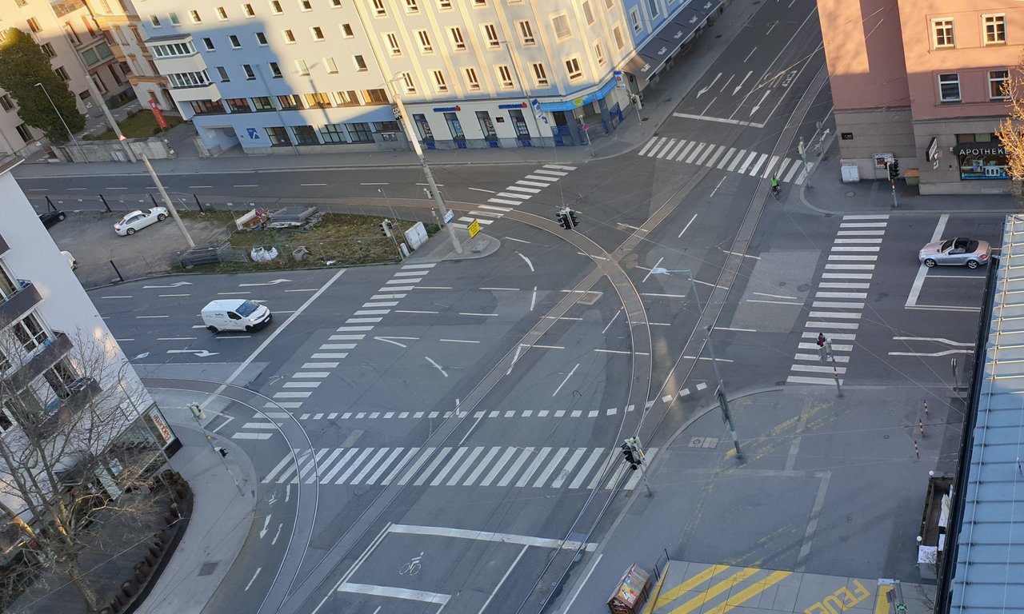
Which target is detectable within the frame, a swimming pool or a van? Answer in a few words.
van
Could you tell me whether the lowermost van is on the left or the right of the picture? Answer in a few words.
left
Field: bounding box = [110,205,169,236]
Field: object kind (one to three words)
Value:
car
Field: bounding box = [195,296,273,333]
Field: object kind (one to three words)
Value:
van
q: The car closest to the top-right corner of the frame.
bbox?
[917,235,990,268]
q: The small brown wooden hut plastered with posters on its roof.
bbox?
[605,562,656,614]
